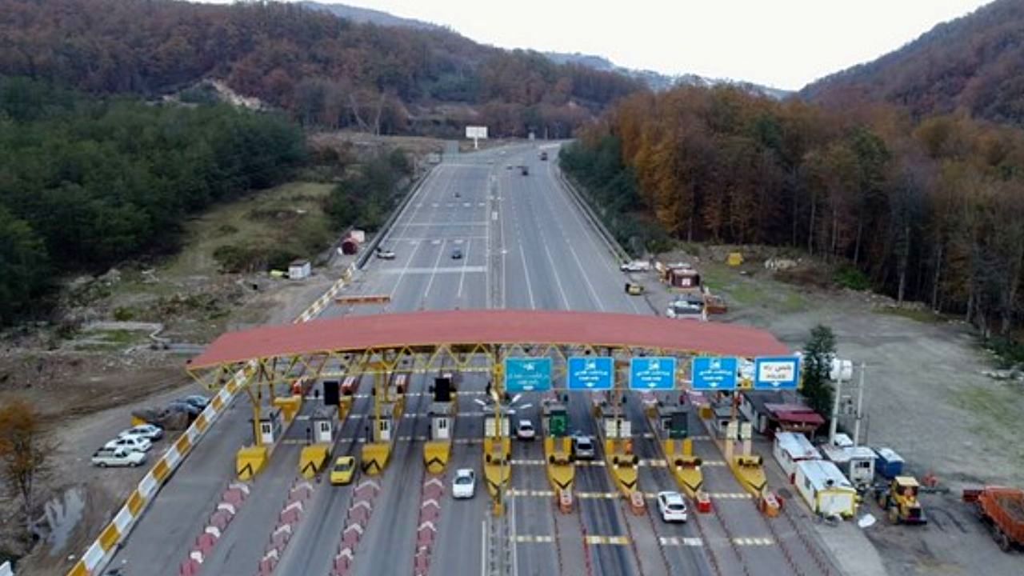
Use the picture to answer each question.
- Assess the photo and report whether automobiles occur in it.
Yes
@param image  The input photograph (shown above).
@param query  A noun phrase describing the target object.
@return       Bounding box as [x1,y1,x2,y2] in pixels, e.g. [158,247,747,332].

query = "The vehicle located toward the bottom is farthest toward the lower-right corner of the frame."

[960,487,1024,558]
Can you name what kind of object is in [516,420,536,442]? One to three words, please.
car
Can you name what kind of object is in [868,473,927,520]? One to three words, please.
work vehicle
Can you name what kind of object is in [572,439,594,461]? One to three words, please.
car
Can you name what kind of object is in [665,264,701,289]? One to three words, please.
building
